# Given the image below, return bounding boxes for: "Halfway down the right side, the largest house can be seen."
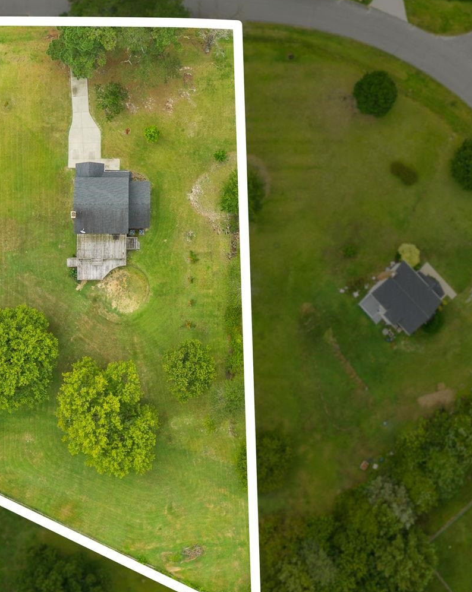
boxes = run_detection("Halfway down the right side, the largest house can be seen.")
[358,260,445,335]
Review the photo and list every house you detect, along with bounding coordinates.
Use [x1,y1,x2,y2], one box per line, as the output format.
[358,260,445,335]
[71,160,151,234]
